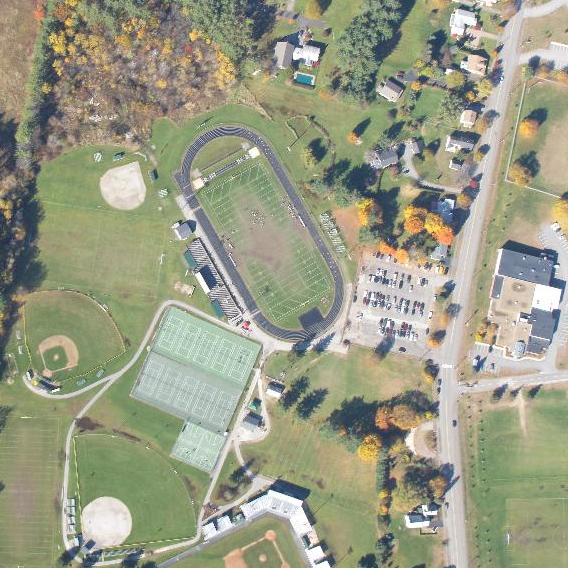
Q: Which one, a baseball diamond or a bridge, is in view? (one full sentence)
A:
The image shows a baseball diamond.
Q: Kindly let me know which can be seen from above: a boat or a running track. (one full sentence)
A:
The image shows a running track.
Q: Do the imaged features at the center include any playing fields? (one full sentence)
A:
Yes, a playing field can be seen at the center.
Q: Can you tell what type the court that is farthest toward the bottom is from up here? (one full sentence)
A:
The court that is farthest toward the bottom in the image is a basketball court.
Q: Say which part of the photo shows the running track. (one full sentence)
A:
The running track is located in the center region of the scene.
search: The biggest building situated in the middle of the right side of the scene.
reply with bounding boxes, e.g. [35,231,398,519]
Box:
[486,249,562,359]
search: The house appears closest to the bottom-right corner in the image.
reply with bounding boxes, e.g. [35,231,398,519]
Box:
[405,507,436,528]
